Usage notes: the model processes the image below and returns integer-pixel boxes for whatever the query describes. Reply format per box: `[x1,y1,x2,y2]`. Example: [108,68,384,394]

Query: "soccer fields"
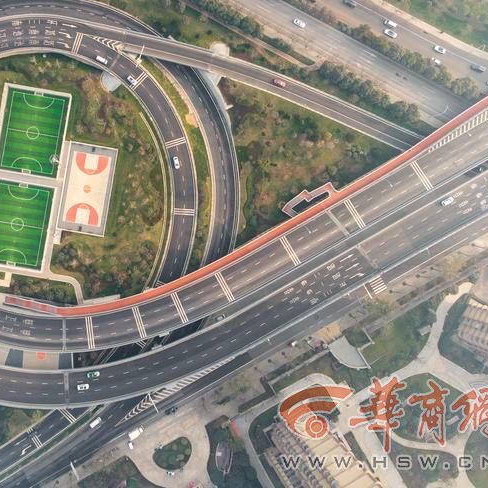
[0,180,54,270]
[0,87,69,180]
